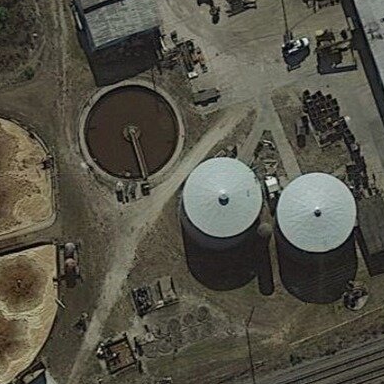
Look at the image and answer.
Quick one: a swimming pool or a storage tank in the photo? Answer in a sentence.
Of the two, only a storage tank appears.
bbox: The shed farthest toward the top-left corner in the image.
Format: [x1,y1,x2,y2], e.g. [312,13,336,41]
[74,0,160,56]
